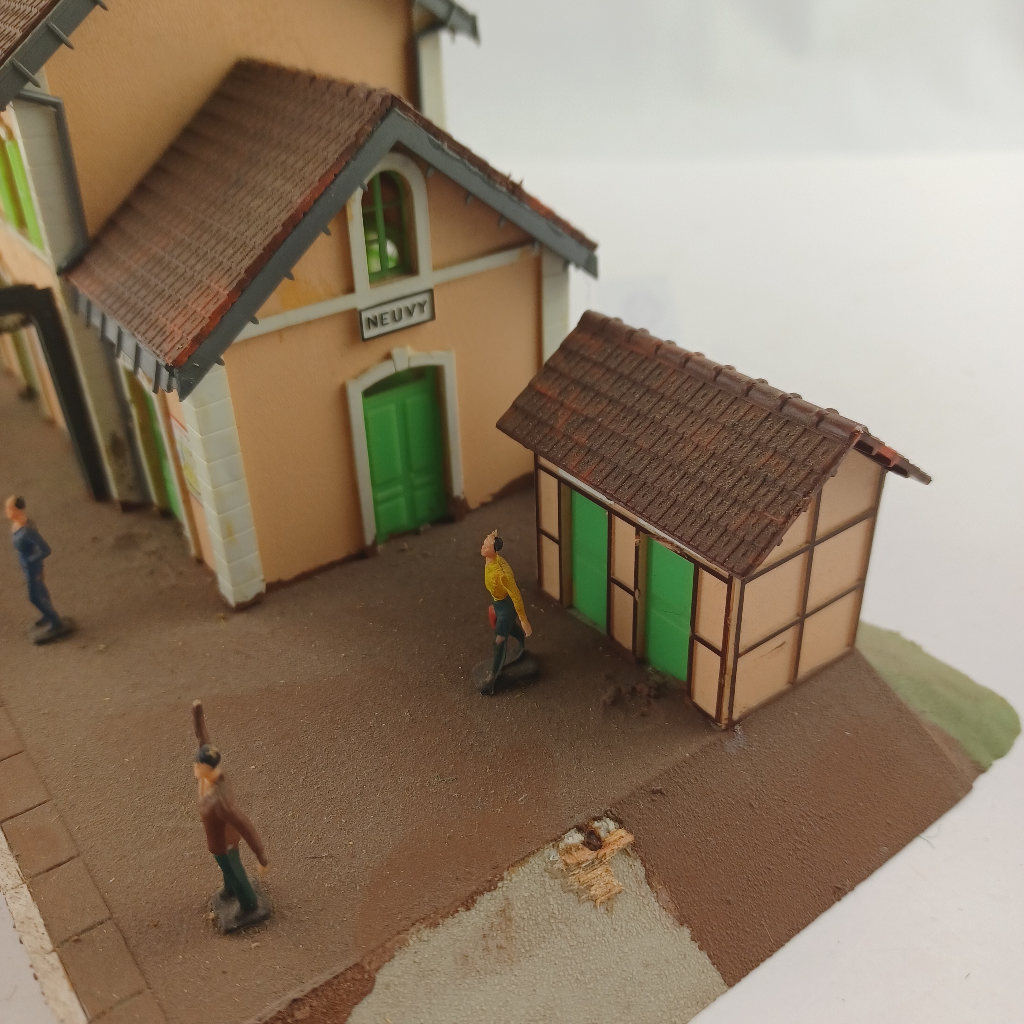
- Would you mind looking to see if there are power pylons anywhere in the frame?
No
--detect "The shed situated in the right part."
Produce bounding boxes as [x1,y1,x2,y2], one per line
[494,305,931,728]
